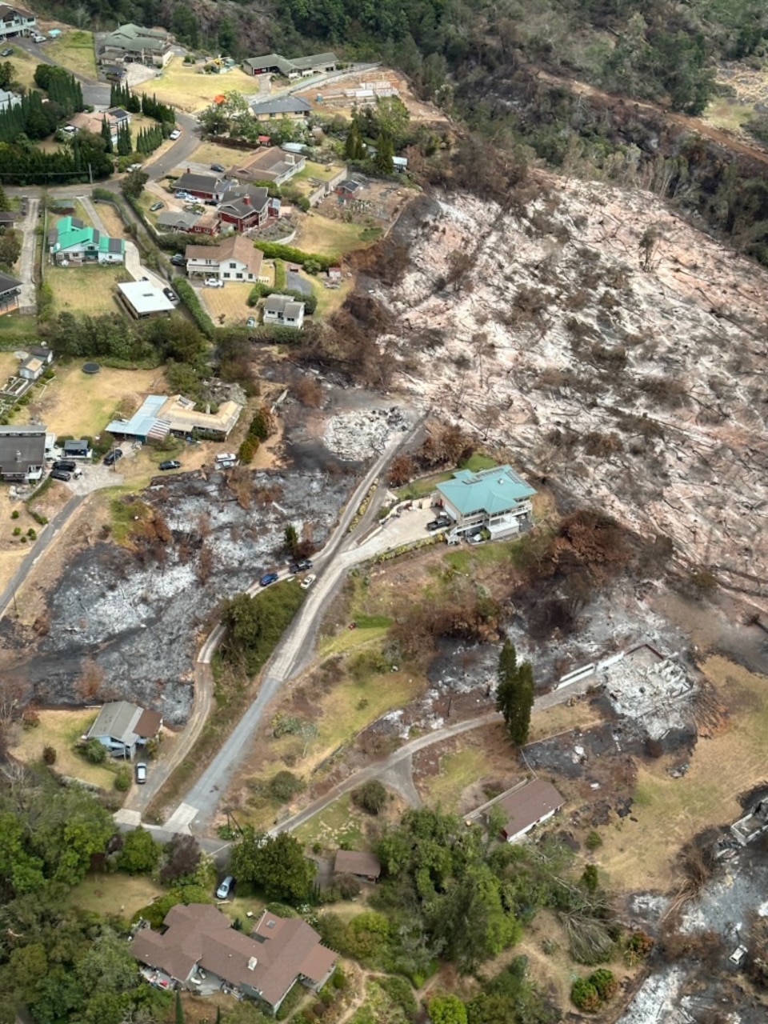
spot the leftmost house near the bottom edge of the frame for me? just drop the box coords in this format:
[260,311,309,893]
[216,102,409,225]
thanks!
[121,889,338,1012]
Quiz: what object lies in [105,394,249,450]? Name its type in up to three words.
house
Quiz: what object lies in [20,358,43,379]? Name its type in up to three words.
building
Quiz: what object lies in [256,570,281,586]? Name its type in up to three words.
car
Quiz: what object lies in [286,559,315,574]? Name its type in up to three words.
vehicle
